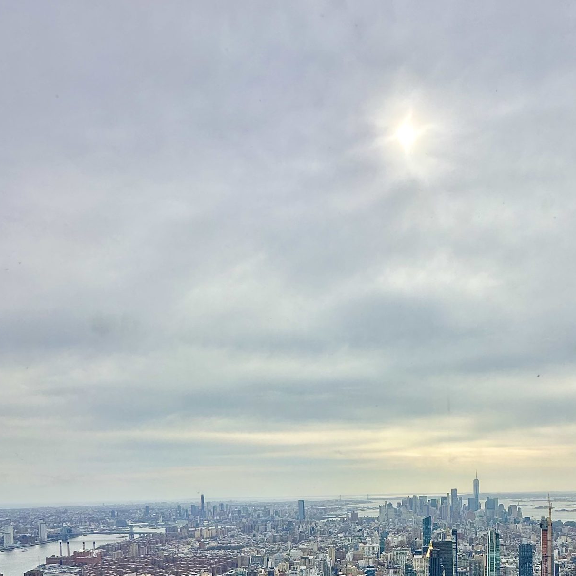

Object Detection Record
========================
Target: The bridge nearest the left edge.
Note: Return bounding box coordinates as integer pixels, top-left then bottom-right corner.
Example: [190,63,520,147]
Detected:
[0,525,190,541]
